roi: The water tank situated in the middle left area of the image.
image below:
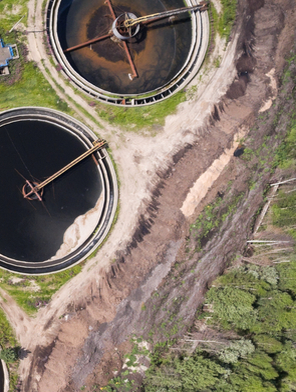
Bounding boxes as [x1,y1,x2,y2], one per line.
[0,106,118,275]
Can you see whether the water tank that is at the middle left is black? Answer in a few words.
Yes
